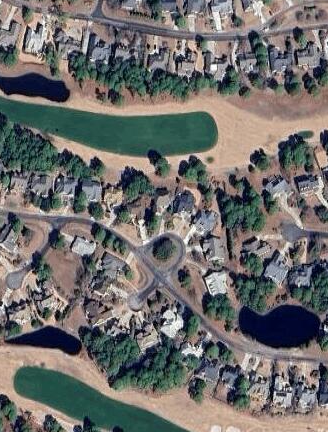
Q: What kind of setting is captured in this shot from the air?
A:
residential area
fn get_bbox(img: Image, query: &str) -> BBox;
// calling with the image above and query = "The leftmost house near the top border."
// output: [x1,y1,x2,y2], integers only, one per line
[0,18,21,48]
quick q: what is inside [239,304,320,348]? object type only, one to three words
pond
